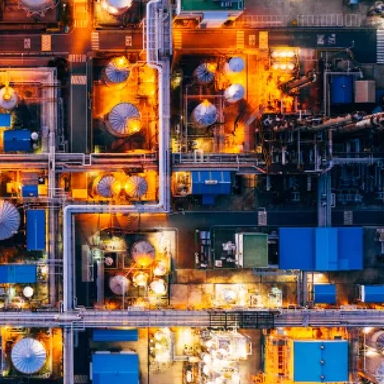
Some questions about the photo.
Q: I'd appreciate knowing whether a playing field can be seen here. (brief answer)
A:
No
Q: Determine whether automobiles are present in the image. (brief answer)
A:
No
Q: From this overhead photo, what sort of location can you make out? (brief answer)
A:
industrial area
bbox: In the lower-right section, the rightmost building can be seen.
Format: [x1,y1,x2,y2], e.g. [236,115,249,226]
[357,283,384,302]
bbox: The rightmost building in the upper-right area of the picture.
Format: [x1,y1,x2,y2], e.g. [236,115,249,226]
[347,80,375,104]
